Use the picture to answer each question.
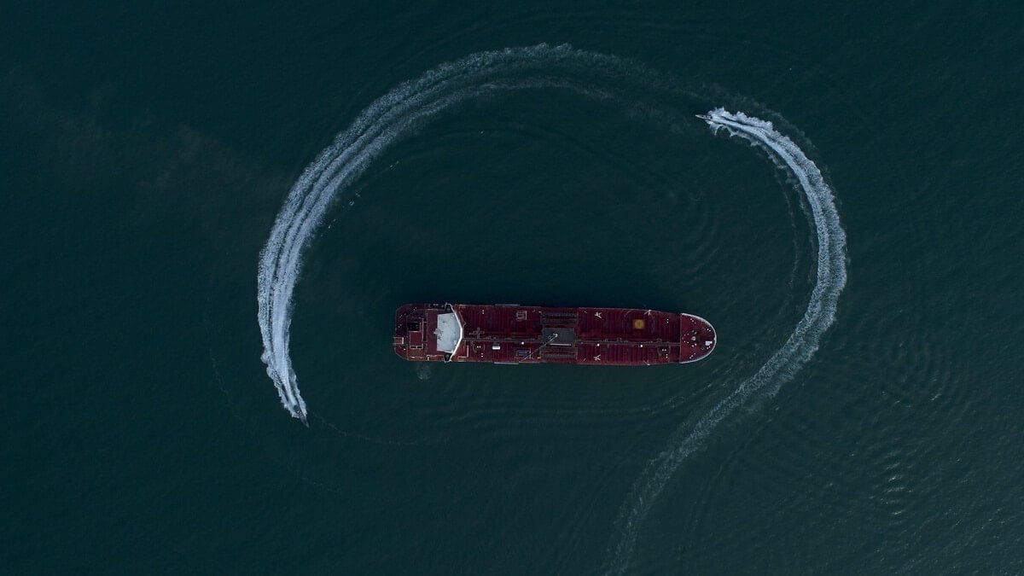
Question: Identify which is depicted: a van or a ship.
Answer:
ship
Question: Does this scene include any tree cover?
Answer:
No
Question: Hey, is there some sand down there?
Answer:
No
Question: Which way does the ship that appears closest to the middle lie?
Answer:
from left to right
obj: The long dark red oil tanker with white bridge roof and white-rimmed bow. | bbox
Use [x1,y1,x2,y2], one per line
[393,303,716,367]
